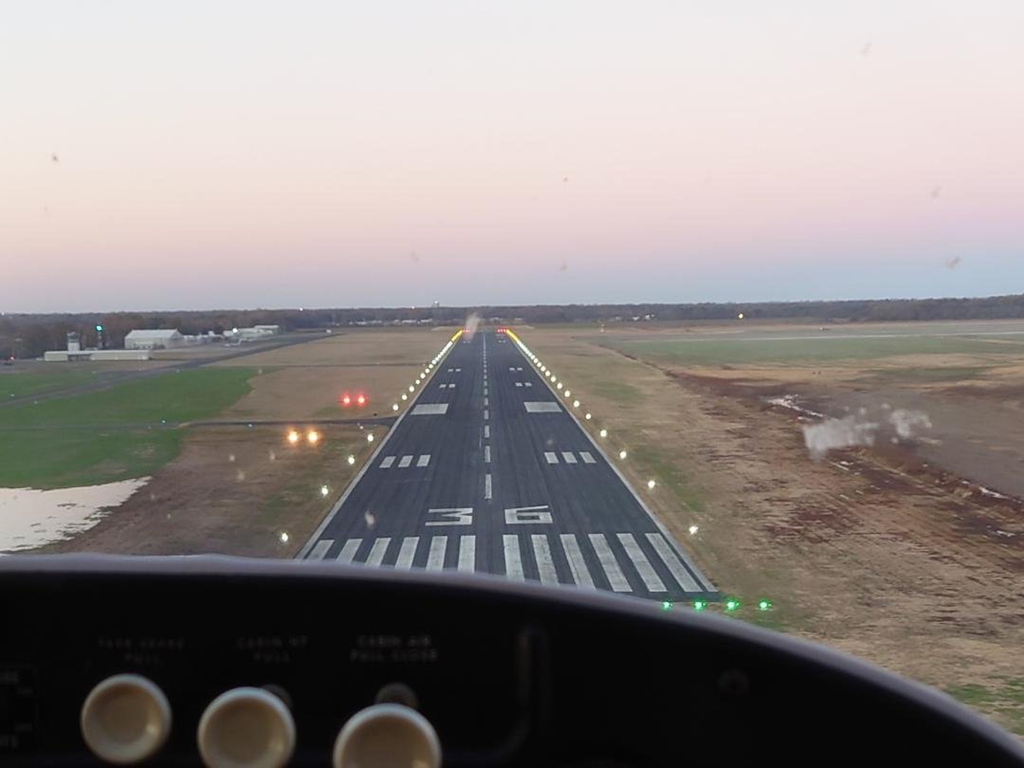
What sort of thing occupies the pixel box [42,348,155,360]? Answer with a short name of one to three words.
building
